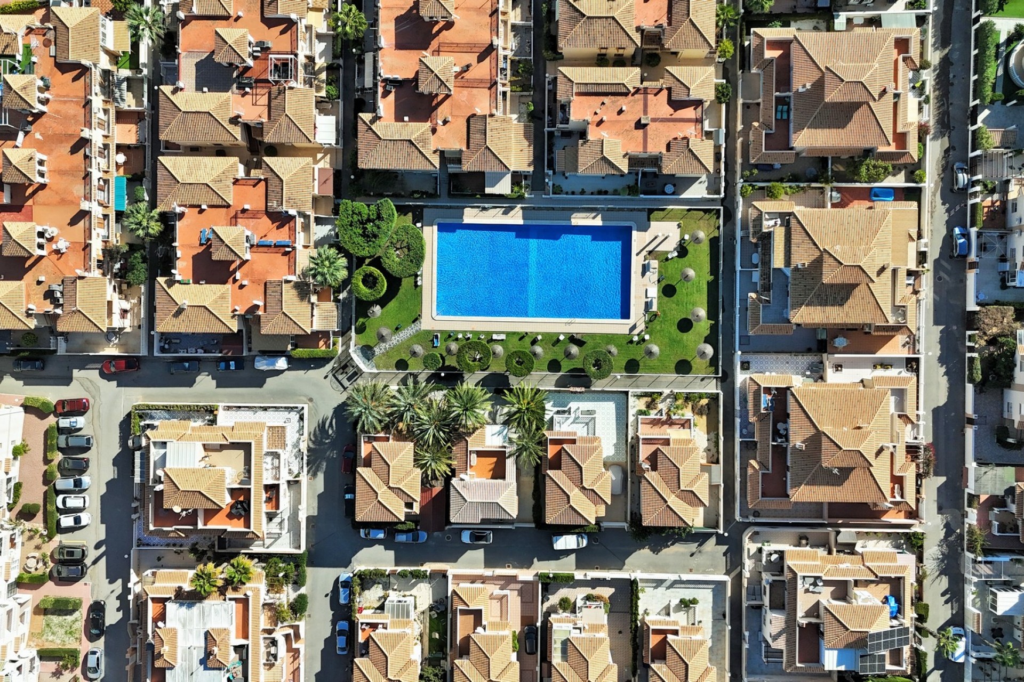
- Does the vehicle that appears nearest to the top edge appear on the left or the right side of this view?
right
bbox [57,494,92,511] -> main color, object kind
white car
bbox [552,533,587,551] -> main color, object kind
white vehicle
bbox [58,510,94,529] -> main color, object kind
white car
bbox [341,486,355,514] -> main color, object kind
black car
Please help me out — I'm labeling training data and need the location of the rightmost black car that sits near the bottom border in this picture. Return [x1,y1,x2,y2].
[522,624,537,654]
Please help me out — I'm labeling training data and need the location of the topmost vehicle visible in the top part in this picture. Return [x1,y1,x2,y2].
[949,161,970,193]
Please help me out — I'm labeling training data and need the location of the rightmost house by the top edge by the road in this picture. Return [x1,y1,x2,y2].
[747,13,920,165]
